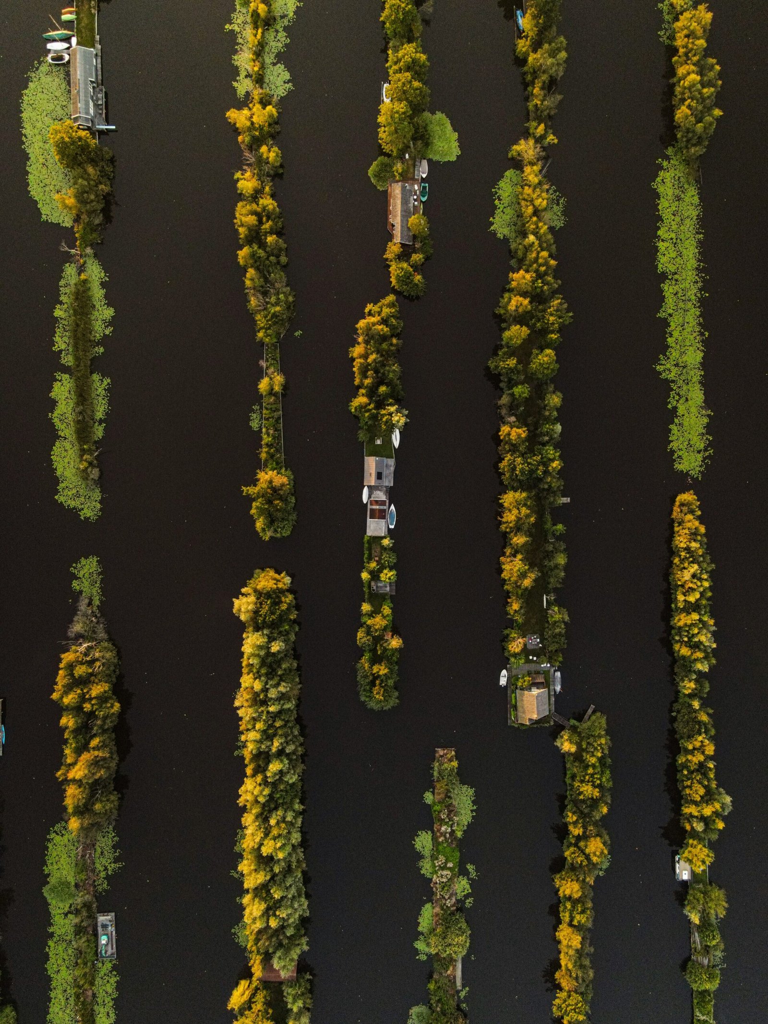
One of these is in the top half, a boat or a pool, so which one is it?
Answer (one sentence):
There is a boat in the top half.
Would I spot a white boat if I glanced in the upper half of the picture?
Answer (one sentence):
Yes, a white boat appears in the upper half of the picture.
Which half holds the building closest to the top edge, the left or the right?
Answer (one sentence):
The building closest to the top edge is on the left side of the image.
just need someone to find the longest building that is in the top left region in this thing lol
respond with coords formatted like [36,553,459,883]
[70,45,97,128]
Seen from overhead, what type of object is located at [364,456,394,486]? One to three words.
house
